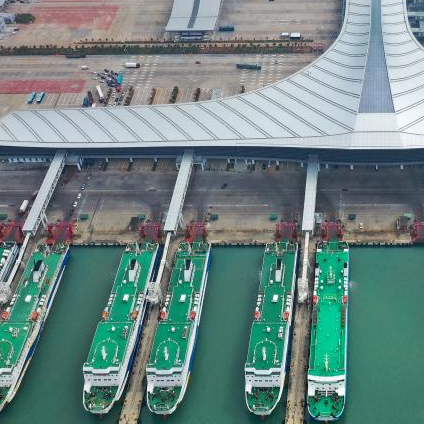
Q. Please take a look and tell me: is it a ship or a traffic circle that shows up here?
ship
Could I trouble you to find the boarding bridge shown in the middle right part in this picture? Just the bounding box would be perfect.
[296,160,332,307]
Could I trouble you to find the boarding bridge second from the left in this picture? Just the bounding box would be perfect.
[147,155,207,307]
